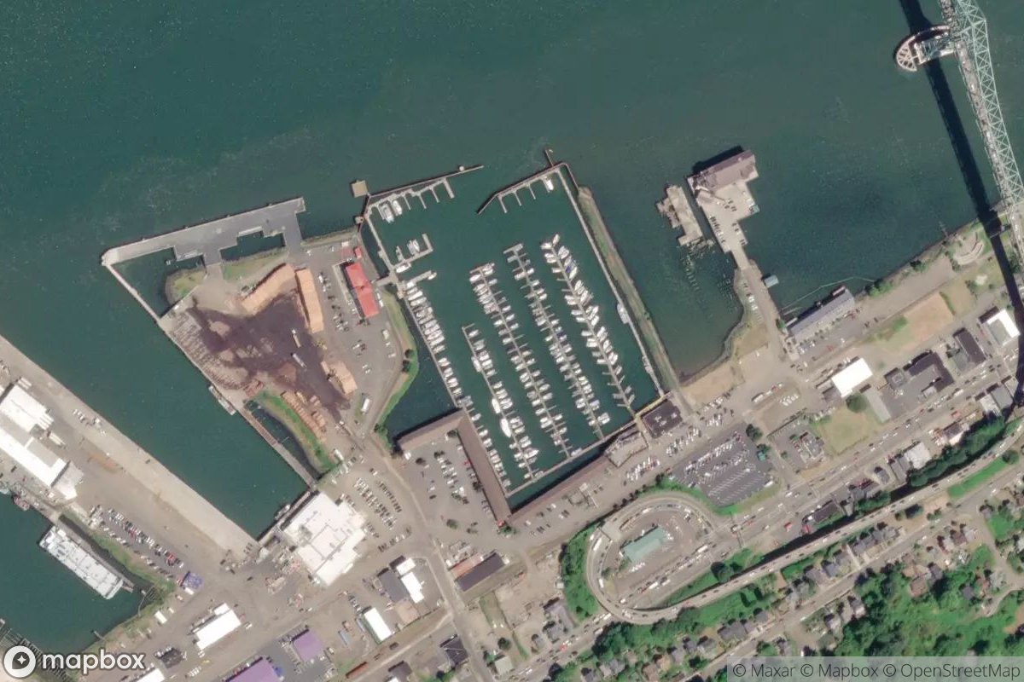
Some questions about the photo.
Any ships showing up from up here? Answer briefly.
Yes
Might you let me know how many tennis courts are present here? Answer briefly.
none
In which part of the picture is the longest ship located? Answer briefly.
bottom left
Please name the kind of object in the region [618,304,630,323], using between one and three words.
boat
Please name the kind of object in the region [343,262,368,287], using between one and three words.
building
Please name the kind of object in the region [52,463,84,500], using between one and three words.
shed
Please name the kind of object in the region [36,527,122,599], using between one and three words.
ship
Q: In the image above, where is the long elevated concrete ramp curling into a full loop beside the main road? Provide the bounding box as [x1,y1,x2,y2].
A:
[583,422,1024,621]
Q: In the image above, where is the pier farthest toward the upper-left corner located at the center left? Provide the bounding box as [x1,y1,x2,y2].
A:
[101,259,161,320]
